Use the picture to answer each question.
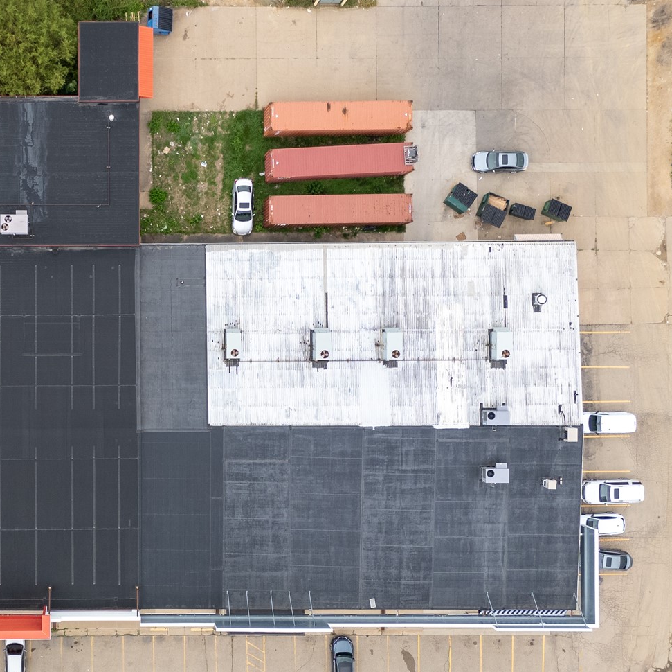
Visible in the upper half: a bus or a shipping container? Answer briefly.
shipping container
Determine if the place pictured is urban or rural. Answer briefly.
urban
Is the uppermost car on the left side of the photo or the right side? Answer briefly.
right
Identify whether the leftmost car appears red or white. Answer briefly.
white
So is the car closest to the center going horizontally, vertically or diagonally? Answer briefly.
vertically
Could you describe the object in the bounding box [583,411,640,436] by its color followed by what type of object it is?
white car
